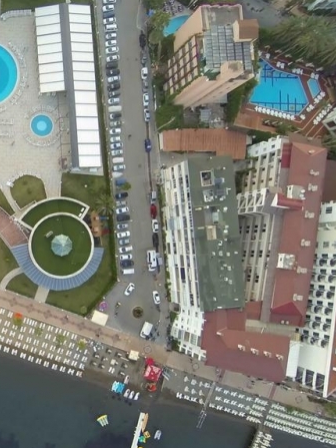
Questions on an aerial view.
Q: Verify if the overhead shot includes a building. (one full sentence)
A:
Yes, there is a building in the image.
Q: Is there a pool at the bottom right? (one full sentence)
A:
No, there's no pool to be seen at the bottom right.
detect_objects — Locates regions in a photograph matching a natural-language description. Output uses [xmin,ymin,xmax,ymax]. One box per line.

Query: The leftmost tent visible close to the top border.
[32,5,66,93]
